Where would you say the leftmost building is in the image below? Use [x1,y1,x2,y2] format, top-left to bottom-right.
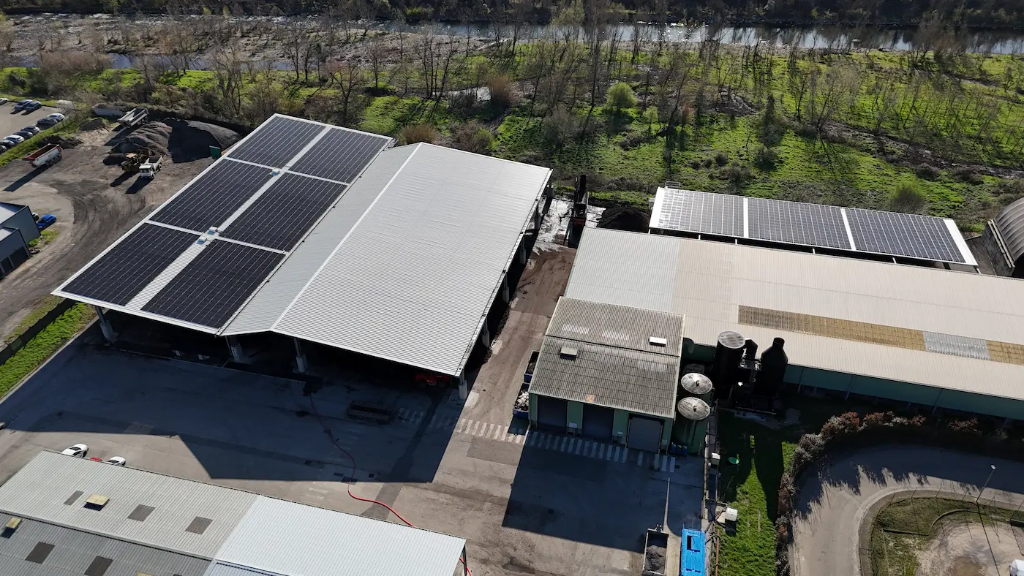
[0,199,39,277]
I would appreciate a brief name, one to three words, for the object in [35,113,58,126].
vehicle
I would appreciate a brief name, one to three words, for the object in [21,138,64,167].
trailer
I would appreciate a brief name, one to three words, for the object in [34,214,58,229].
car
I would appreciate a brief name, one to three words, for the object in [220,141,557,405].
building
